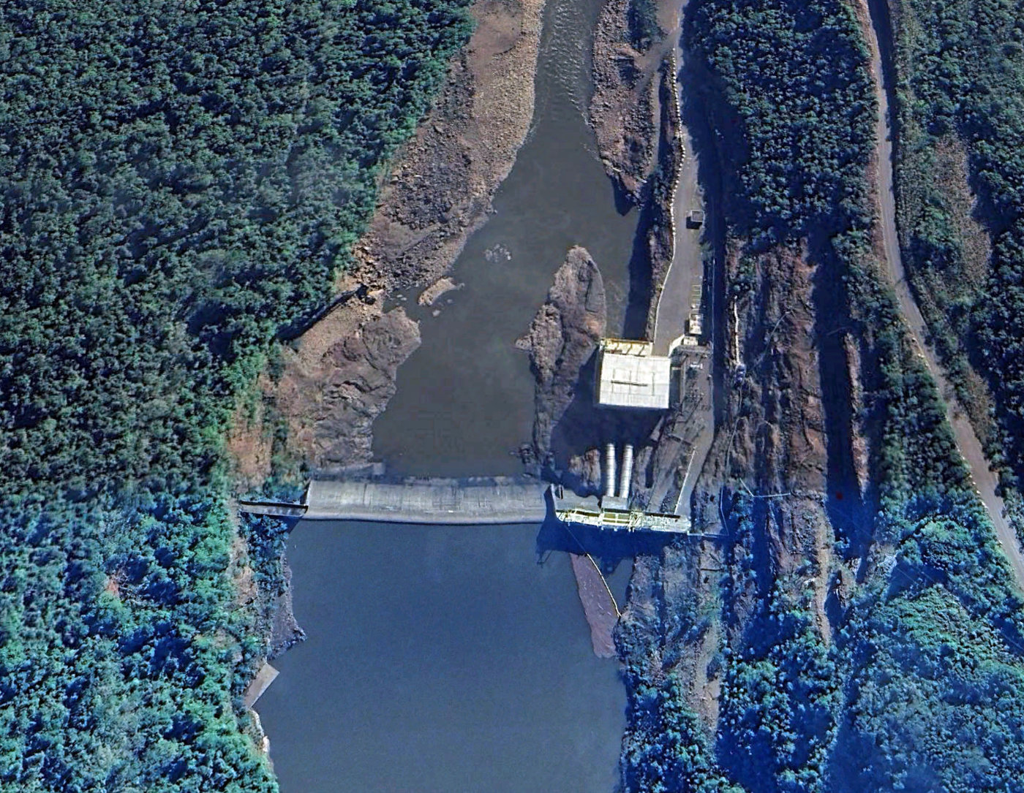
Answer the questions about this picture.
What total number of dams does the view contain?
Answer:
one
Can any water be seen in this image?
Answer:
Yes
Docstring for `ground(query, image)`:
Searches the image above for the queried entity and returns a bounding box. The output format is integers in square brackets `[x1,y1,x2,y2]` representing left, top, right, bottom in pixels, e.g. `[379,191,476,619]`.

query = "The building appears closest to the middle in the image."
[592,339,684,410]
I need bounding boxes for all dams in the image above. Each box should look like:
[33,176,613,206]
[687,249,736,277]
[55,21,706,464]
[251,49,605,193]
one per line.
[304,473,554,524]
